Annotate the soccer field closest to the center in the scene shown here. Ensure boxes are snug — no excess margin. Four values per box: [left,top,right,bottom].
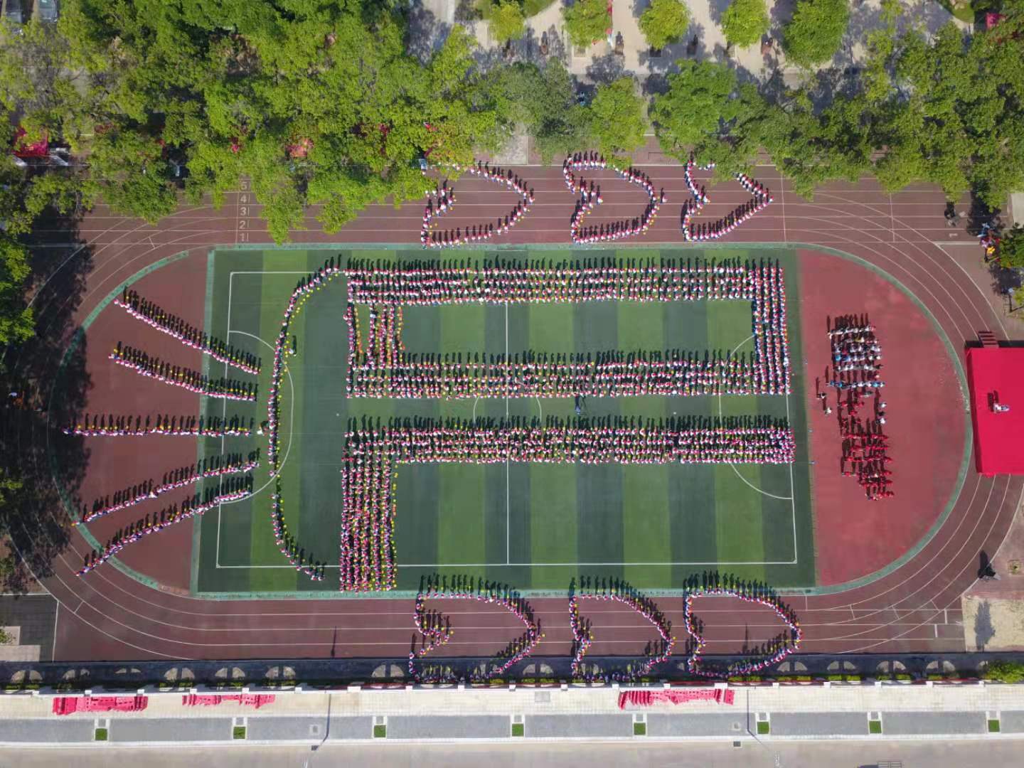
[199,248,817,593]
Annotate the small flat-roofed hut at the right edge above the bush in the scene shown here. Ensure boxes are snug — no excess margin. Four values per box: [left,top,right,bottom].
[995,191,1024,230]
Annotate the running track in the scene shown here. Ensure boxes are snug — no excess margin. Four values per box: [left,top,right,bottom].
[0,164,1024,661]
